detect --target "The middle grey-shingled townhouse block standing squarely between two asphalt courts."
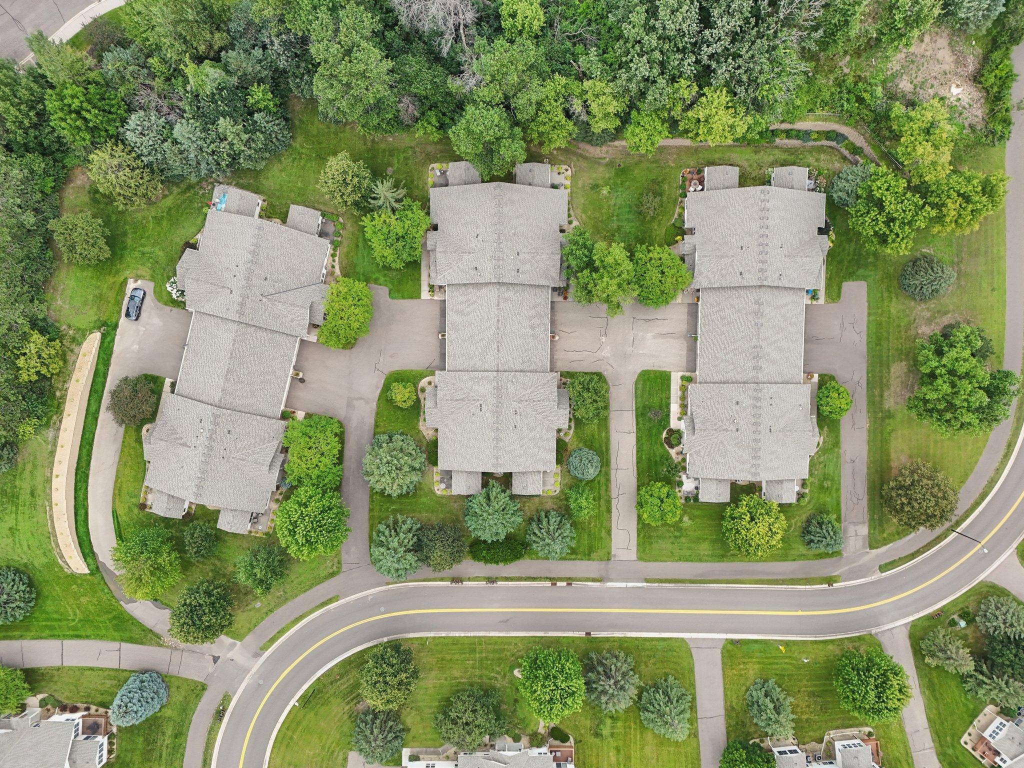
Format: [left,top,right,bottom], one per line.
[426,162,569,495]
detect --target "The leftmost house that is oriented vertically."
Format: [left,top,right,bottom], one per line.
[143,188,332,534]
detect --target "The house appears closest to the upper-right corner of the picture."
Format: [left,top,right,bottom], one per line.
[678,166,827,504]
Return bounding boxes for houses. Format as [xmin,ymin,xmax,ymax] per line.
[770,737,871,768]
[0,708,108,768]
[426,162,569,495]
[678,166,827,504]
[405,740,573,768]
[143,188,332,534]
[980,714,1024,768]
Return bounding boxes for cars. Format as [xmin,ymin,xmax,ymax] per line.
[121,285,145,322]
